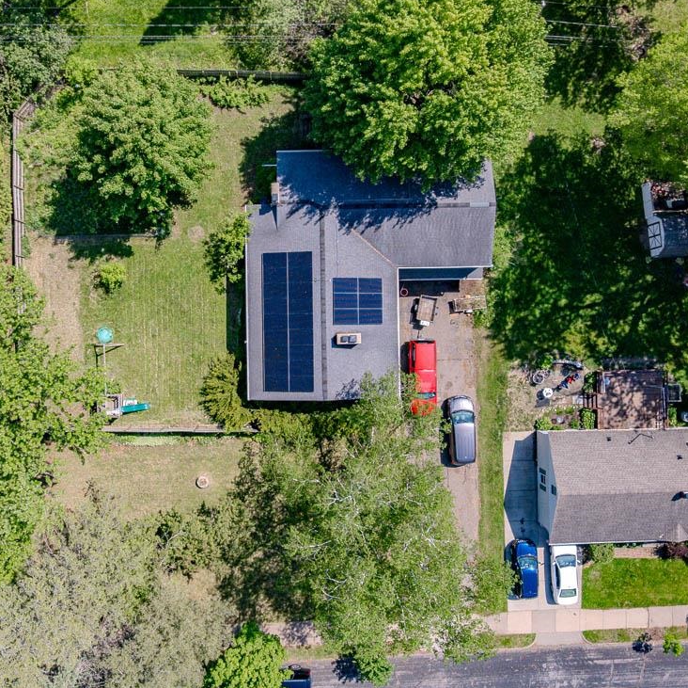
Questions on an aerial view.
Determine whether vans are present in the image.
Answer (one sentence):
Yes, you can see a van in this photo.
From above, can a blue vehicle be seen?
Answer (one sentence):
Yes, there's a blue vehicle here.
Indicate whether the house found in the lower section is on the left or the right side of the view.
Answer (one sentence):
You can find the house found in the lower section on the right side of the picture.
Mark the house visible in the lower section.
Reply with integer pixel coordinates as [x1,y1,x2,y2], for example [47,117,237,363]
[537,425,688,546]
